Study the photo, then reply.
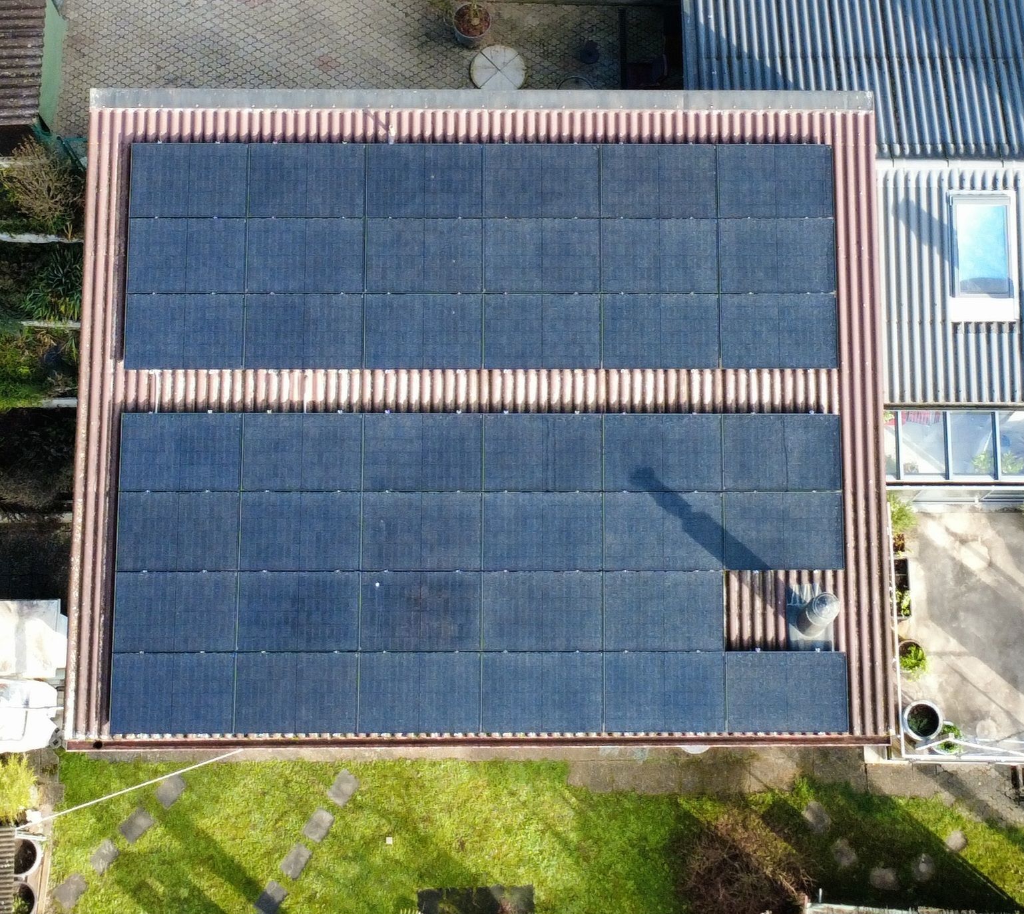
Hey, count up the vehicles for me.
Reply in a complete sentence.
The picture shows no vehicles.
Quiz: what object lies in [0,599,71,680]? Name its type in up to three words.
greenhouse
